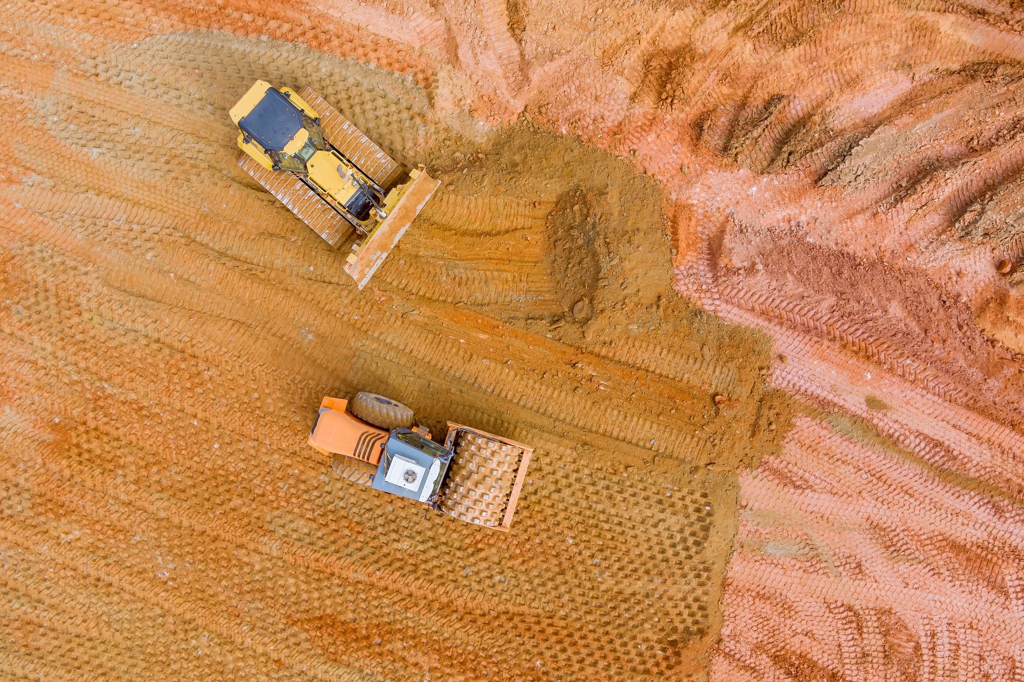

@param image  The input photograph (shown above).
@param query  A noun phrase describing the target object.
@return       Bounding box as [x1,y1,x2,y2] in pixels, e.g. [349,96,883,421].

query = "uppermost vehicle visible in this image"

[230,80,440,285]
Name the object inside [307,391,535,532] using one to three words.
work vehicle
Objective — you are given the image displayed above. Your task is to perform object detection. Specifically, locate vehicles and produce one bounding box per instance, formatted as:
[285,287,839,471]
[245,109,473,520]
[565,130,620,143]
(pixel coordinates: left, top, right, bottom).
[230,80,440,285]
[307,391,535,532]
